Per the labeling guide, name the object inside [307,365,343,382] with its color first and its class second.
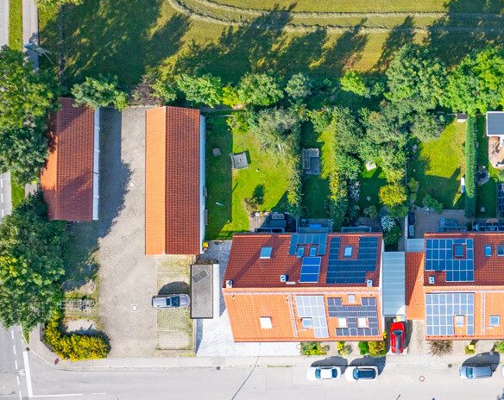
white car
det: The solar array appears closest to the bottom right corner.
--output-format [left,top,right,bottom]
[426,294,475,336]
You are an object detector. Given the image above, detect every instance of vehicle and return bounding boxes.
[307,365,343,382]
[154,294,191,310]
[459,364,493,380]
[389,321,405,354]
[346,365,380,382]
